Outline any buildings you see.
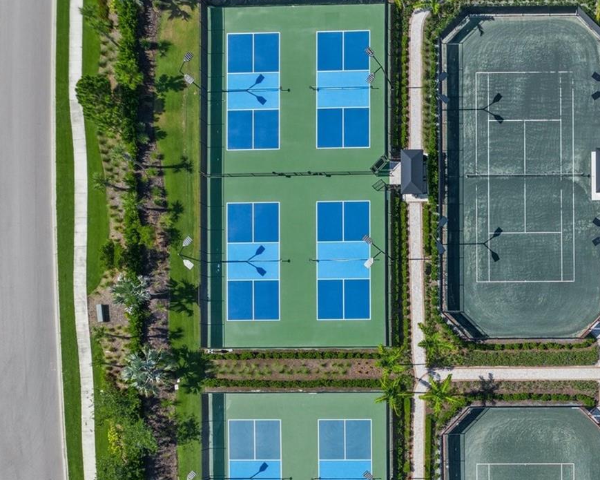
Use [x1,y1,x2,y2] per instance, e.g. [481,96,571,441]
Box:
[591,148,600,201]
[400,150,424,196]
